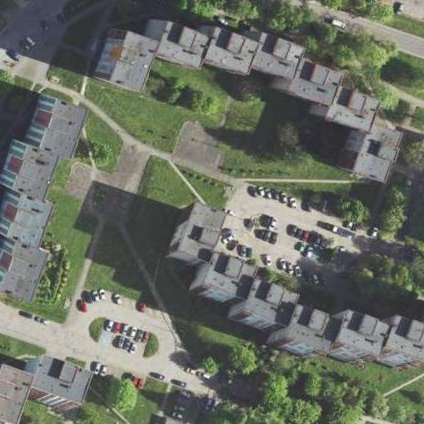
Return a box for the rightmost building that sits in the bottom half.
[372,314,424,367]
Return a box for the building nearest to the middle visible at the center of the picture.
[167,202,226,268]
